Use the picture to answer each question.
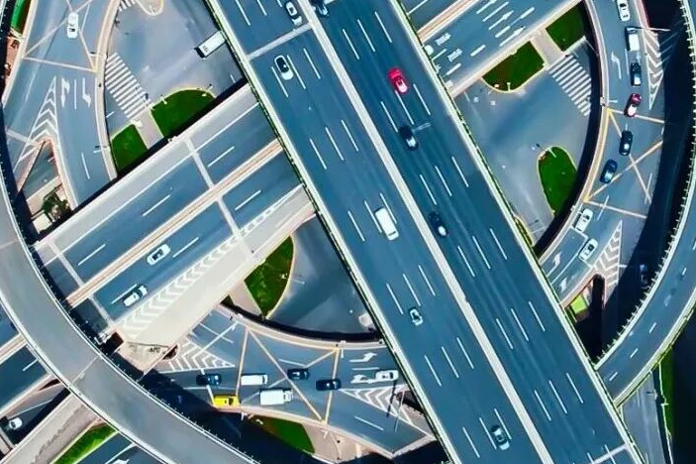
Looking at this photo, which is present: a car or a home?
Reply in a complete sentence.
Of the two, only a car appears.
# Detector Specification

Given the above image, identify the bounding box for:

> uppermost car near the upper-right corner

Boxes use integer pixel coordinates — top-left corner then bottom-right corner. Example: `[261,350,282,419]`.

[616,0,630,21]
